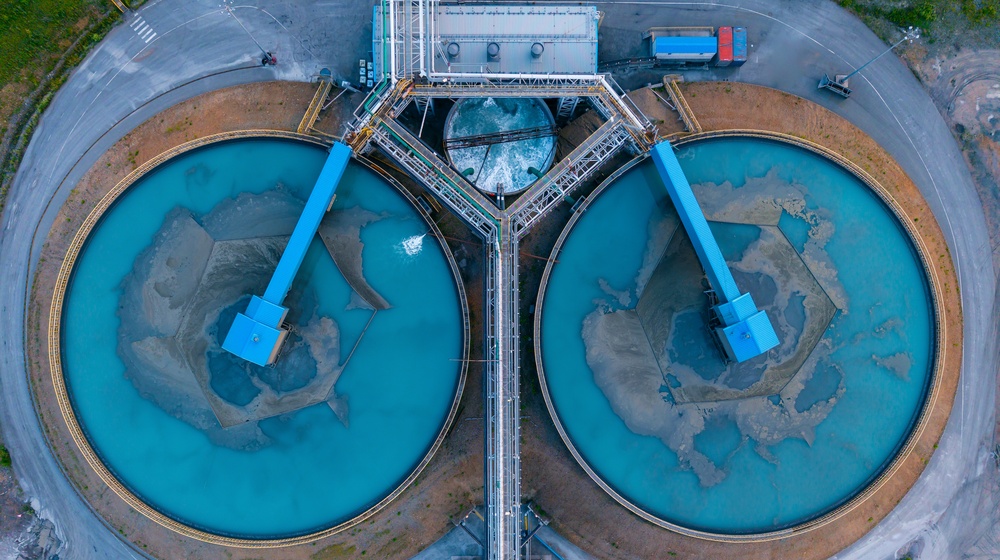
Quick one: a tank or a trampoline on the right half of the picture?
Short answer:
tank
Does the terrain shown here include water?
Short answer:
Yes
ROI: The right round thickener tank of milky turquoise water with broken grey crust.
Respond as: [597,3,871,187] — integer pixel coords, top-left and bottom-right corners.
[535,128,947,542]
